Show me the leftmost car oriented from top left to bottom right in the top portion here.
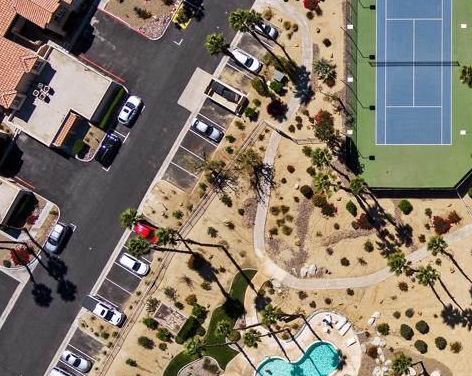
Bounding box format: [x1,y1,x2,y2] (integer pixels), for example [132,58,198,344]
[191,118,225,144]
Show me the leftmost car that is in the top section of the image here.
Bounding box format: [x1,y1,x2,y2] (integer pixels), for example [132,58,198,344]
[96,132,122,166]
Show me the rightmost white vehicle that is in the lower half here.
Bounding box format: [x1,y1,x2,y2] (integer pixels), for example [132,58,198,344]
[118,252,150,277]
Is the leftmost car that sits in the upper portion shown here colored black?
Yes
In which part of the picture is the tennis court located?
top right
